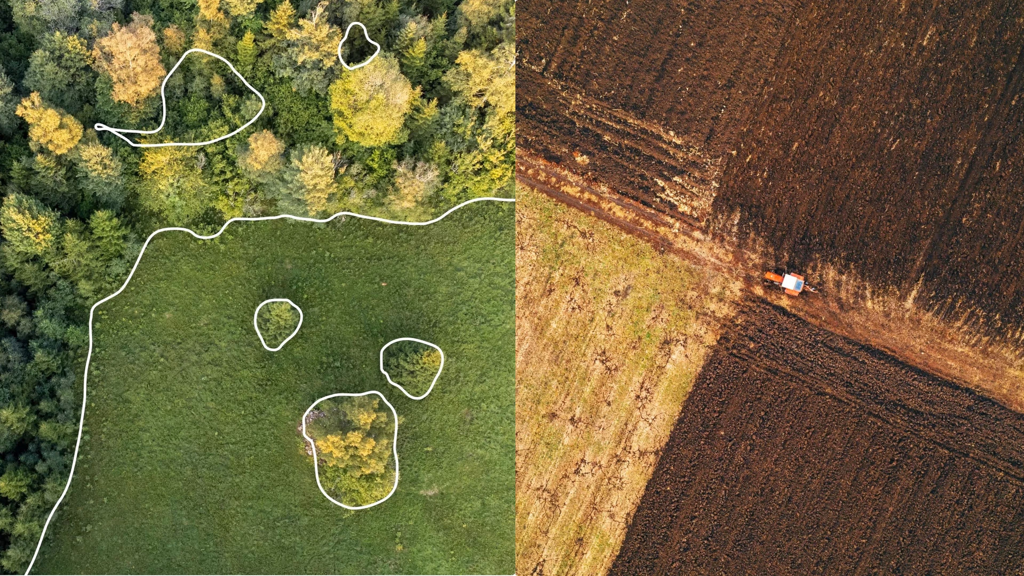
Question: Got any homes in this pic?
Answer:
No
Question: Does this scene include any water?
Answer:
No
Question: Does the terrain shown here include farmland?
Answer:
Yes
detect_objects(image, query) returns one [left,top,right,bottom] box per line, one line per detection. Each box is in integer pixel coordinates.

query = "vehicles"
[761,271,804,298]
